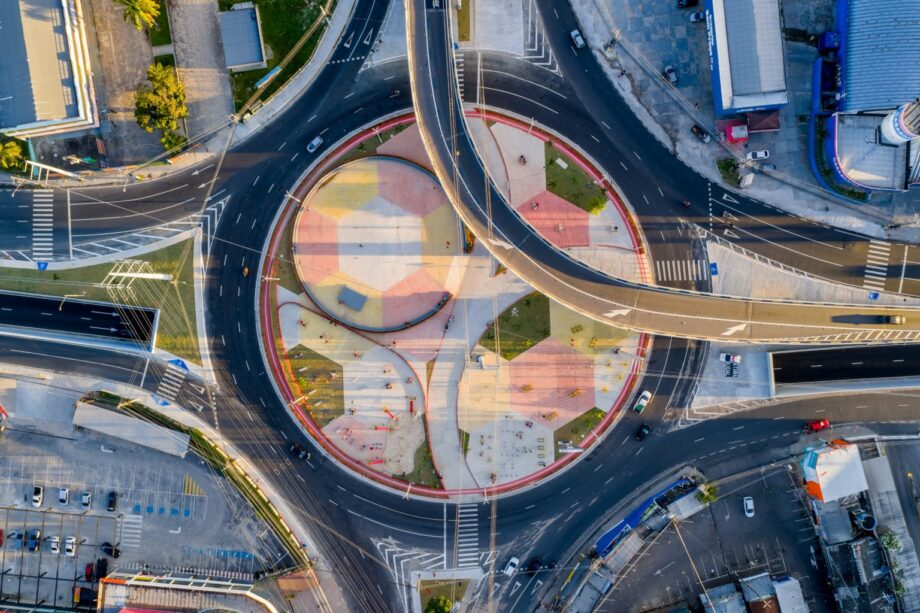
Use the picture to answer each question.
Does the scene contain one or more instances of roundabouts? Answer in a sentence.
Yes, a roundabout appears in the view.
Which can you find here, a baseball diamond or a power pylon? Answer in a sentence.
Of the two, only a power pylon appears.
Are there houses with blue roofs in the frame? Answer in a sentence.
Yes, this view includes a house with a blue roof.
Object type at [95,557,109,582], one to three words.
vehicle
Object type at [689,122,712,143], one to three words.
vehicle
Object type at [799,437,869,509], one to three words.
building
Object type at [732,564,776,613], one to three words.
house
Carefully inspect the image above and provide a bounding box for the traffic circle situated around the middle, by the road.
[255,102,655,502]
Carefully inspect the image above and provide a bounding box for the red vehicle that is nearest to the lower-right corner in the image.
[804,419,830,433]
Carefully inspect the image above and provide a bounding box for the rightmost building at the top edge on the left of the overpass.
[221,2,270,73]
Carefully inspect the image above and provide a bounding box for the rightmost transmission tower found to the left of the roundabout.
[104,253,175,289]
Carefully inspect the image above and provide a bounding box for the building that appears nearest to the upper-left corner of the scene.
[0,0,102,145]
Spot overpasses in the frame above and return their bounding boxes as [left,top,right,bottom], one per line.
[405,0,920,342]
